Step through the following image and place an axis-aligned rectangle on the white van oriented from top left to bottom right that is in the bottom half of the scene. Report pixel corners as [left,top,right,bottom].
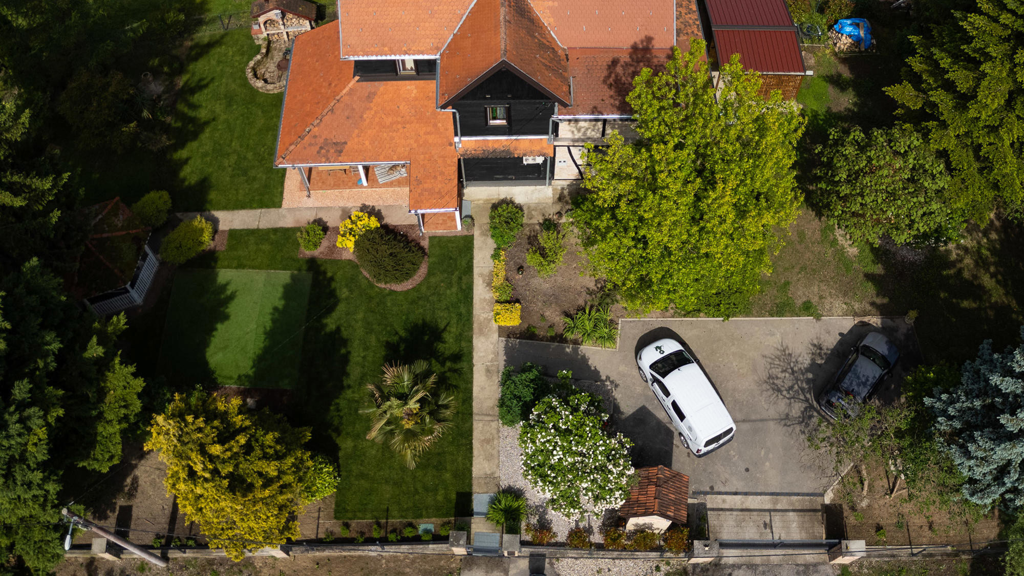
[637,338,742,459]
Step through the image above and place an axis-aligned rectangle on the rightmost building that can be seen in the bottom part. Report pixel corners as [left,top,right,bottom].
[617,461,691,527]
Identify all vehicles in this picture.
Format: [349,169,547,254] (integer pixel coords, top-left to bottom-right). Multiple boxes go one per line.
[813,328,905,429]
[637,338,742,459]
